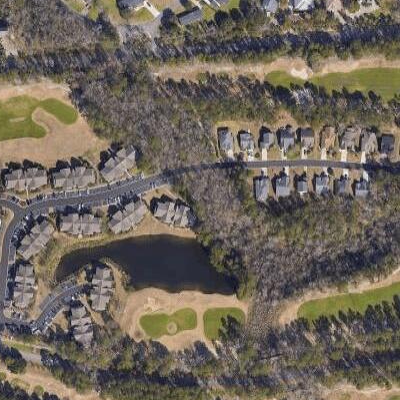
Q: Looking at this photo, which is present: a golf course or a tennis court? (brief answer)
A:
golf course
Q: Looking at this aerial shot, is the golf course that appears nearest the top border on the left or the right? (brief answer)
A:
right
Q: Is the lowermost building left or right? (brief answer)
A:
left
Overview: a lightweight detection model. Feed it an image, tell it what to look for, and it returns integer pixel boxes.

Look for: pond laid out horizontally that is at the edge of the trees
[58,236,231,292]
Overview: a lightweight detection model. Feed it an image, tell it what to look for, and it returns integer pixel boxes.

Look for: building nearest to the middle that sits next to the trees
[154,202,195,225]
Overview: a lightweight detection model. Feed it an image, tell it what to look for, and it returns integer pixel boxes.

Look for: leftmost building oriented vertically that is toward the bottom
[15,266,34,308]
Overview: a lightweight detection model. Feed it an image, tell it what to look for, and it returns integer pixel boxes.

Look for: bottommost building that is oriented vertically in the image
[71,306,95,345]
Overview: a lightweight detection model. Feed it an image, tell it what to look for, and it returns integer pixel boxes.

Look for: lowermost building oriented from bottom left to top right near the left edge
[19,220,56,260]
